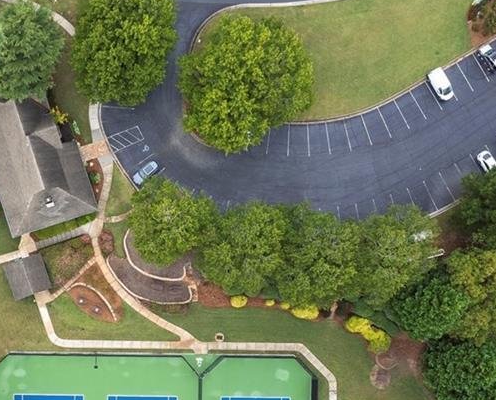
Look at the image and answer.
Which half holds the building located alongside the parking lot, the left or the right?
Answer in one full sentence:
You can find the building located alongside the parking lot on the left side of the picture.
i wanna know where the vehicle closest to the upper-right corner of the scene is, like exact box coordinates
[477,40,496,74]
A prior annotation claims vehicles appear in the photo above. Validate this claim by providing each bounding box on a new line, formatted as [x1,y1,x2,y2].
[474,147,496,175]
[427,64,453,101]
[477,40,496,74]
[131,158,162,186]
